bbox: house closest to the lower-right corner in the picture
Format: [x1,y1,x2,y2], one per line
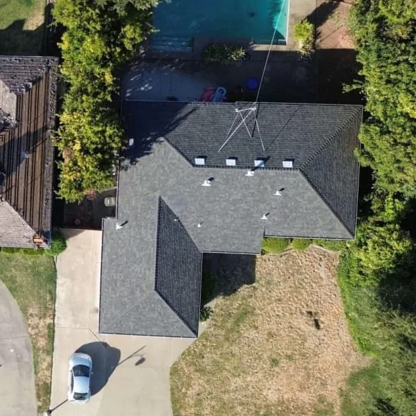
[97,99,363,339]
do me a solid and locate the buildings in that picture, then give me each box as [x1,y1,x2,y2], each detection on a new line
[0,54,60,250]
[97,99,363,339]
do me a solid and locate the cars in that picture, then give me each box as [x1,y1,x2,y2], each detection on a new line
[68,351,95,403]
